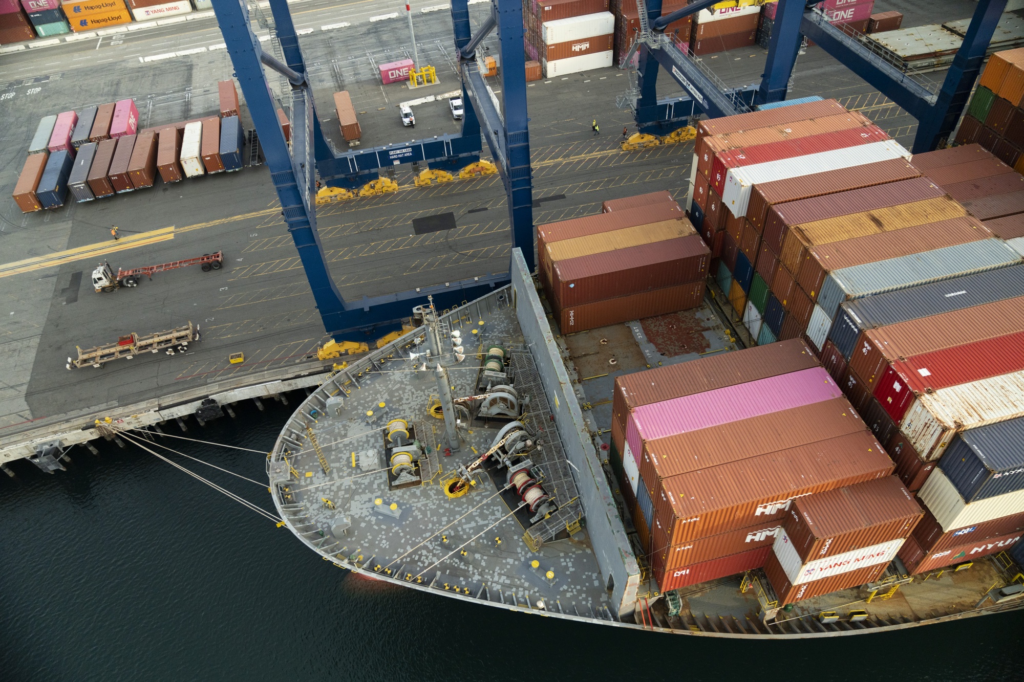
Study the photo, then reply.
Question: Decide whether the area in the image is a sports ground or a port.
port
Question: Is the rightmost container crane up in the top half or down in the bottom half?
top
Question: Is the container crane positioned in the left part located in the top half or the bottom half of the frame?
top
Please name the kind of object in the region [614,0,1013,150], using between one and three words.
container crane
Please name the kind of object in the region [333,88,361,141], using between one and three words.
shipping container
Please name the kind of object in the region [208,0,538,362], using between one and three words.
container crane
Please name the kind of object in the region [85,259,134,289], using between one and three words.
work vehicle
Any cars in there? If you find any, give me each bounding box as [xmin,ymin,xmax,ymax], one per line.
[400,104,415,123]
[450,95,462,115]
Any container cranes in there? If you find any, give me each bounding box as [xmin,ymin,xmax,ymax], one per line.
[614,0,1013,150]
[208,0,538,362]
